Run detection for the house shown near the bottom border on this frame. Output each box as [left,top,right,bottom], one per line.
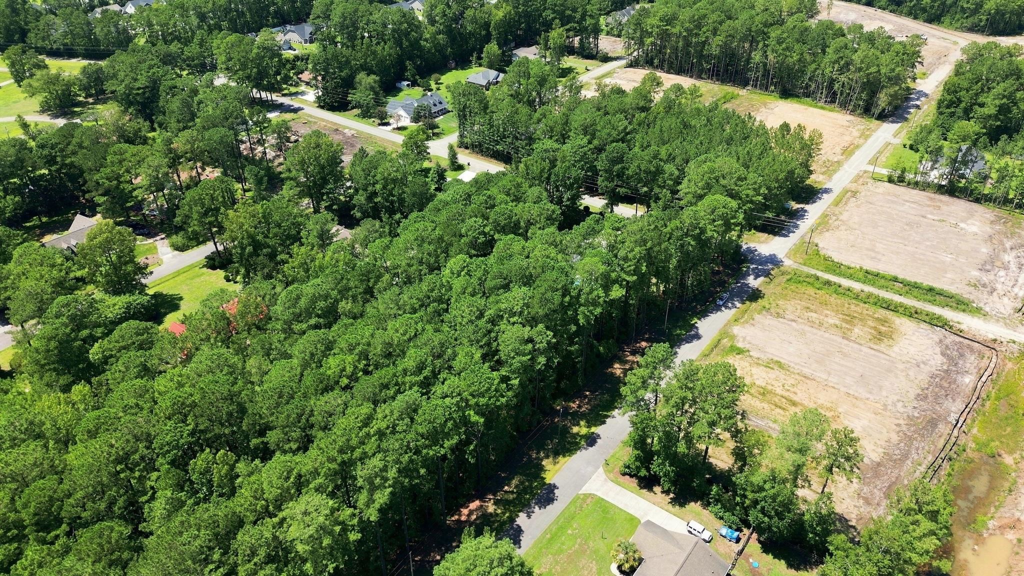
[626,519,735,576]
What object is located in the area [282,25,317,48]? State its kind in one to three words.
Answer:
house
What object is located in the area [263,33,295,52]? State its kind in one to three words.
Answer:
house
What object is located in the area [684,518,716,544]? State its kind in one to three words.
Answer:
car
